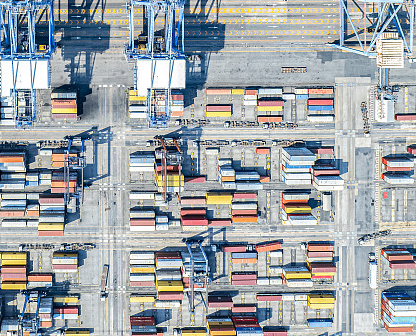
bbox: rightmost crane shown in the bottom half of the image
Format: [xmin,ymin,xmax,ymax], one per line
[181,241,213,317]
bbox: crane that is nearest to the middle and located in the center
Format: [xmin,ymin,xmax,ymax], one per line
[156,138,186,209]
